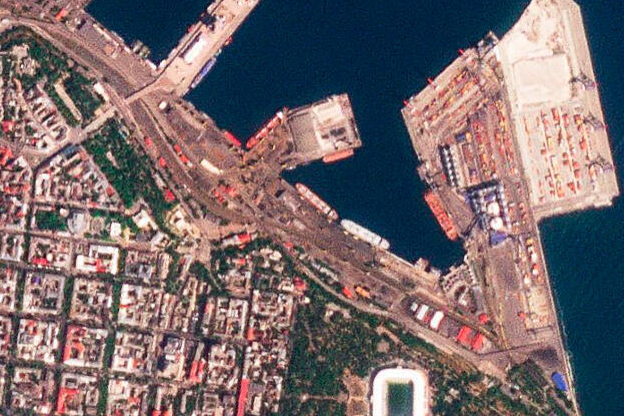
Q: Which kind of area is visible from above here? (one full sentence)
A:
The picture captures a port.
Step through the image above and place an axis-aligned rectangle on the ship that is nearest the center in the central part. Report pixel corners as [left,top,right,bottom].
[298,185,339,221]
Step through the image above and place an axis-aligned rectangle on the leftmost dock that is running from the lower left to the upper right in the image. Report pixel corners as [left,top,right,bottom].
[150,0,254,97]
